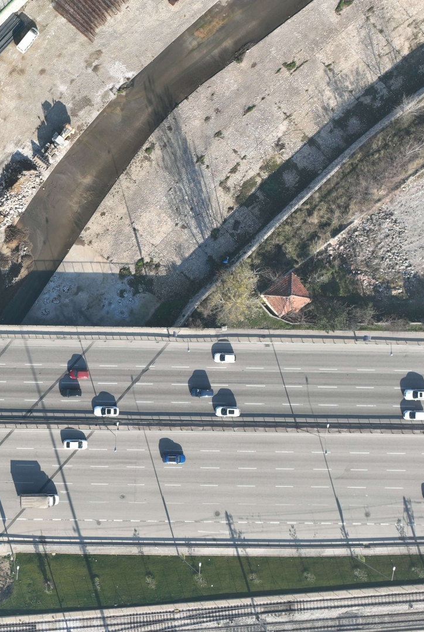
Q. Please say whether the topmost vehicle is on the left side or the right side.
left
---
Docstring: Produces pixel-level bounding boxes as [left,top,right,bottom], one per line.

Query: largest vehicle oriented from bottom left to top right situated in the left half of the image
[35,127,71,168]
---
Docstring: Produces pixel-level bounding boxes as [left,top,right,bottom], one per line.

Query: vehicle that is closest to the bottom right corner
[402,409,424,421]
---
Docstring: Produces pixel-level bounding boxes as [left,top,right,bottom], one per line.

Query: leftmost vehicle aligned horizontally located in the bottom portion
[16,494,58,510]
